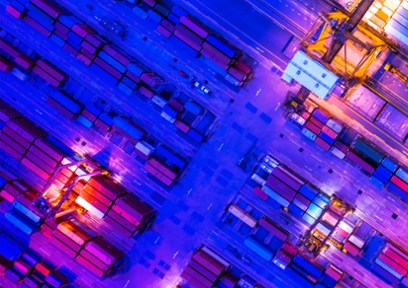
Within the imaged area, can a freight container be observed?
Yes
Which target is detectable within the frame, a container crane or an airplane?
container crane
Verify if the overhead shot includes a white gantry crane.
No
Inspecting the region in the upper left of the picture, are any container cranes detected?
No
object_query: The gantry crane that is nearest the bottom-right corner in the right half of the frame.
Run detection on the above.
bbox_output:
[299,190,356,258]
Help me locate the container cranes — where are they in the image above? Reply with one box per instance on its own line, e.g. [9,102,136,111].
[278,0,389,116]
[22,157,108,225]
[299,190,356,258]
